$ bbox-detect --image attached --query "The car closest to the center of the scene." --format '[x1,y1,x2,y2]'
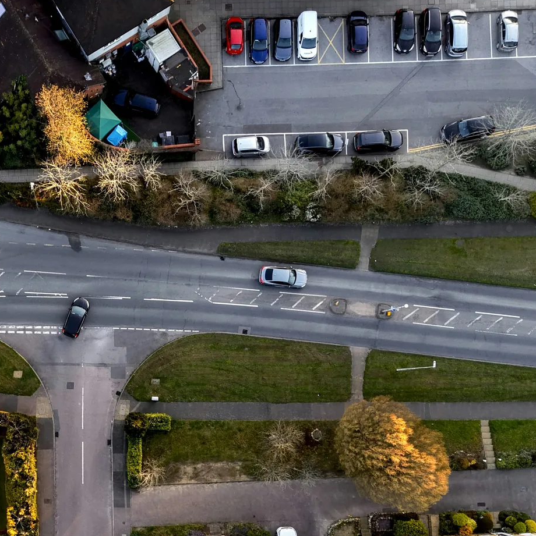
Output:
[257,265,306,289]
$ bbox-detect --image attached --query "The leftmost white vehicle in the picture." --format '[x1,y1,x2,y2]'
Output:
[230,134,270,157]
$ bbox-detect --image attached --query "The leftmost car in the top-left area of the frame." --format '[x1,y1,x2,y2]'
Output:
[111,87,162,120]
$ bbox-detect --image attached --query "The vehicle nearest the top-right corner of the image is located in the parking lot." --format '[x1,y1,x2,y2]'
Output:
[493,10,520,53]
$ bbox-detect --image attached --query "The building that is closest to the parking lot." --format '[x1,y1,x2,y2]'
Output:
[159,47,198,105]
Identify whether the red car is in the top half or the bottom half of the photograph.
top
